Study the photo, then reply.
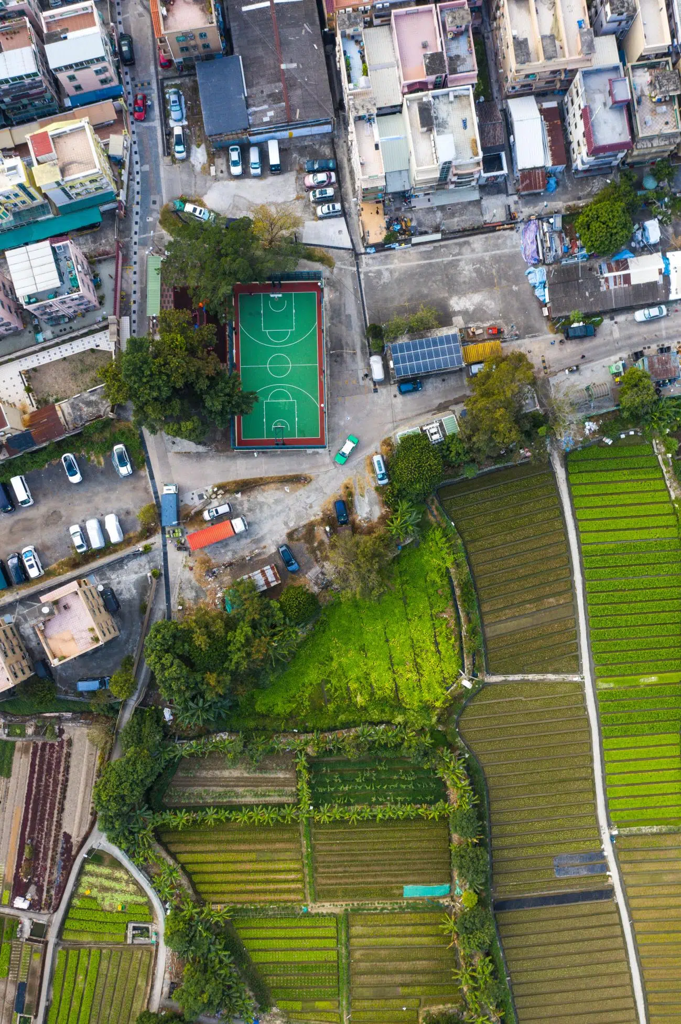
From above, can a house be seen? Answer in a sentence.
Yes, the picture does show a house.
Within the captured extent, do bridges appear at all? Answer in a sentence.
No, no bridge can be seen from above.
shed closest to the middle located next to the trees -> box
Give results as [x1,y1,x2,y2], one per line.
[239,563,283,592]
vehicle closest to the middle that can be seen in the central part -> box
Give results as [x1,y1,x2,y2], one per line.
[334,498,349,526]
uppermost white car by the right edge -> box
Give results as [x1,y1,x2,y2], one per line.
[633,306,667,322]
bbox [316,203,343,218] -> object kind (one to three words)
car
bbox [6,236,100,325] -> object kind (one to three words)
house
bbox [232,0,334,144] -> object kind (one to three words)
building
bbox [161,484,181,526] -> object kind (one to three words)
vehicle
